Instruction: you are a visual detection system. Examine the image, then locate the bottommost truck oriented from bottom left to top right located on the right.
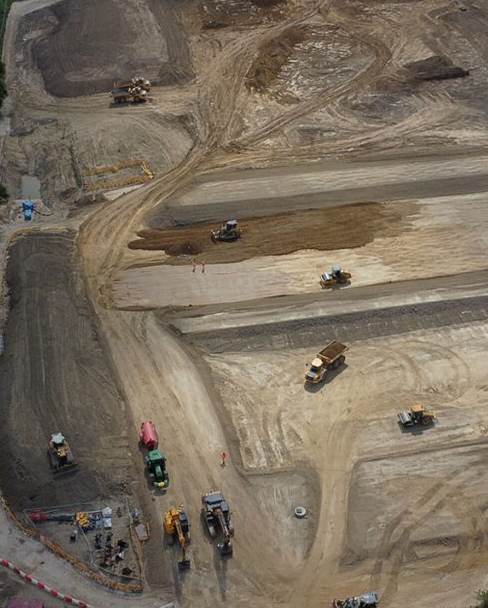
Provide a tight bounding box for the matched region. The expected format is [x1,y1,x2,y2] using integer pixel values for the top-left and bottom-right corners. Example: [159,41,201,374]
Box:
[303,340,350,385]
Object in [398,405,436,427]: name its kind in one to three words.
work vehicle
